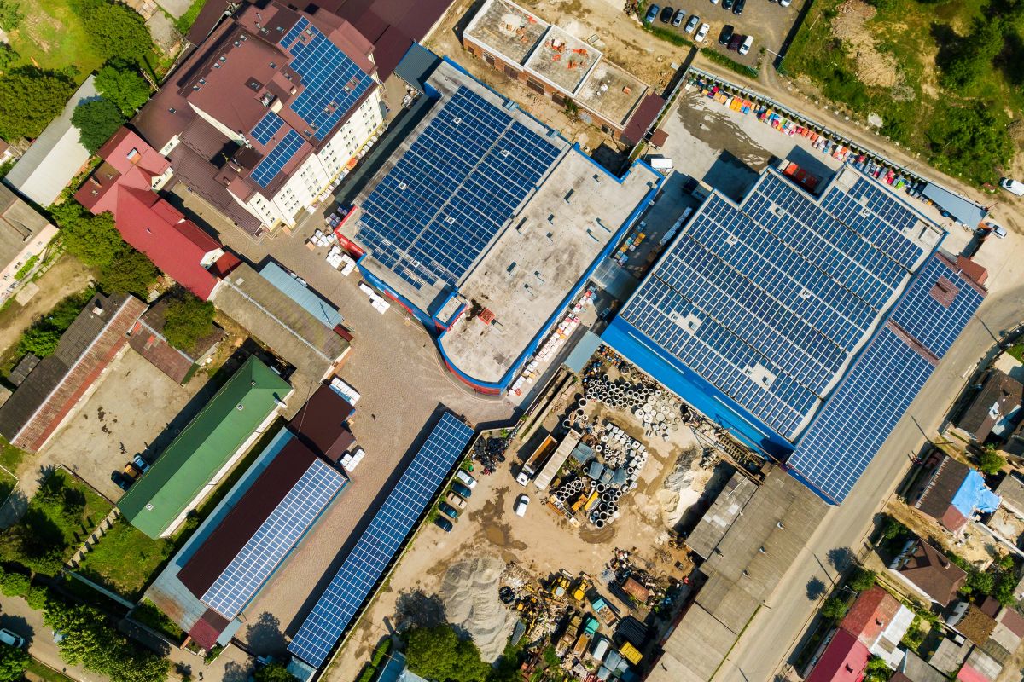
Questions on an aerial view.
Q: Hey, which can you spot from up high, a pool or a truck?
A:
truck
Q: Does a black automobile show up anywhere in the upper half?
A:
Yes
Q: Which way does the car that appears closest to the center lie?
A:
on a diagonal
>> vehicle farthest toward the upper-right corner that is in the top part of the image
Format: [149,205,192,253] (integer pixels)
[997,175,1024,199]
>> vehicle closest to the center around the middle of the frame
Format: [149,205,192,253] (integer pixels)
[593,305,615,328]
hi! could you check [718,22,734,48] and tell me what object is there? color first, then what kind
black car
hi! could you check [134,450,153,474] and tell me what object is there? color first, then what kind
blue car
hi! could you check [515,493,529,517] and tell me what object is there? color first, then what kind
white car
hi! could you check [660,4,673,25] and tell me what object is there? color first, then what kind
black vehicle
